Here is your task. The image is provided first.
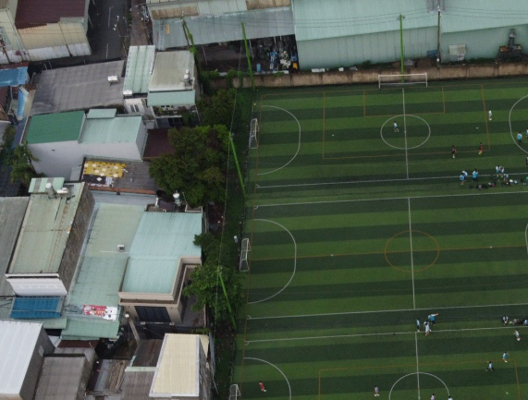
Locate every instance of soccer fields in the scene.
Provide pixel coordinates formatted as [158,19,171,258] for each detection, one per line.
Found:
[245,75,528,196]
[229,316,528,400]
[234,183,528,329]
